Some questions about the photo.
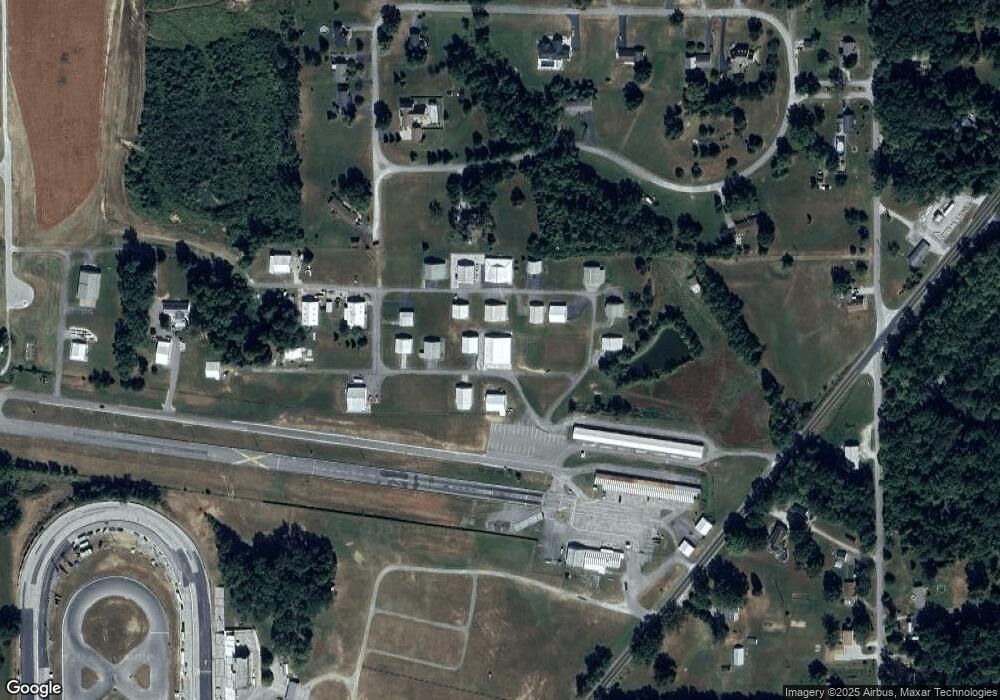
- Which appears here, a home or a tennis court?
home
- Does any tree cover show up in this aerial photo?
Yes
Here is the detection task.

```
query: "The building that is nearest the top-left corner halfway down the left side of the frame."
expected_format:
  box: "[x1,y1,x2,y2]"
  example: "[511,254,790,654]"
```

[78,269,102,308]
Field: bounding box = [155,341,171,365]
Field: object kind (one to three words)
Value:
building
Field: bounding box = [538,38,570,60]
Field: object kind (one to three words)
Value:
house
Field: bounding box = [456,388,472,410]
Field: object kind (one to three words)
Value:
hangar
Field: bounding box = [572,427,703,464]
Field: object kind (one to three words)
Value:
shed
